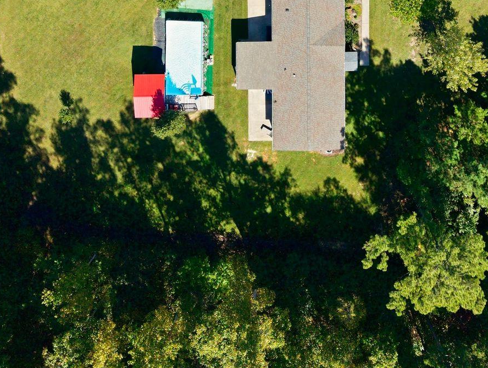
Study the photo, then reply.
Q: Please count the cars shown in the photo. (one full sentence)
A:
The photo contains no cars.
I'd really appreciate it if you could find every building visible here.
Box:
[133,71,167,119]
[235,0,357,155]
